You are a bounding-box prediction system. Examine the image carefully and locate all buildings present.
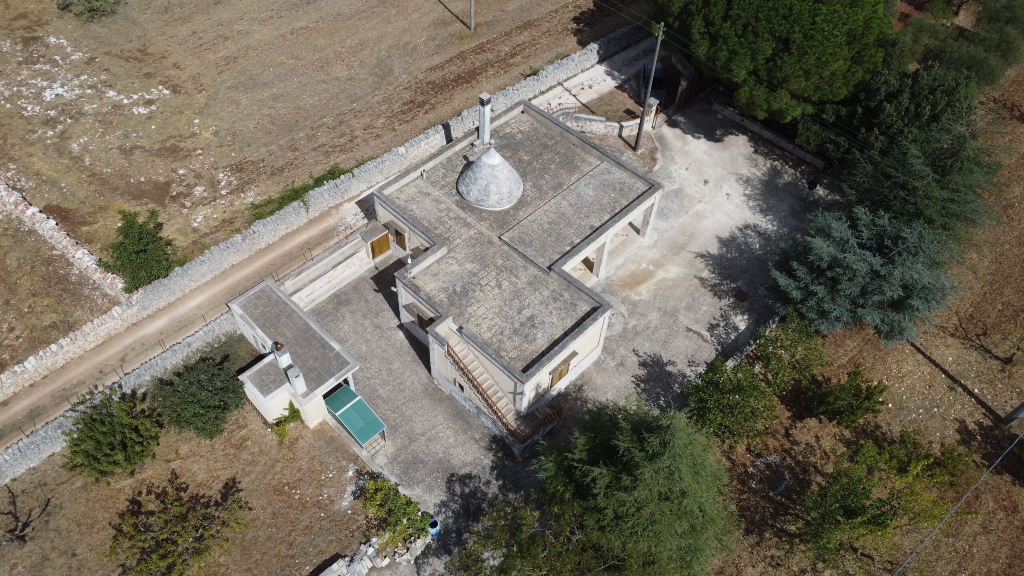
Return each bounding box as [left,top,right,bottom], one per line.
[228,279,358,430]
[374,95,663,457]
